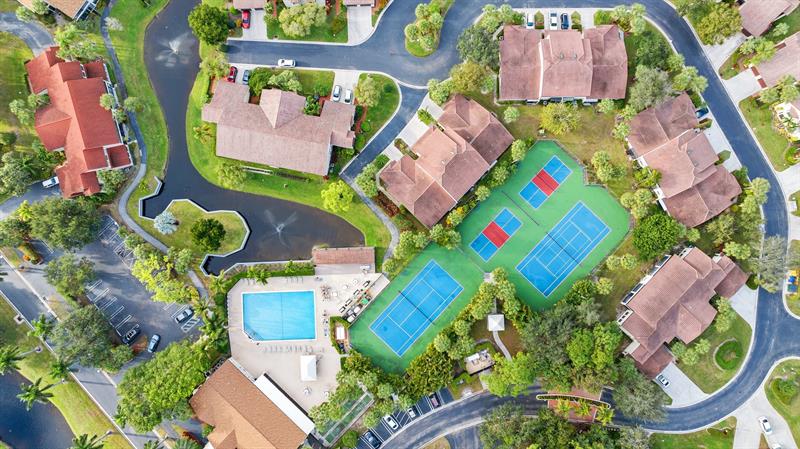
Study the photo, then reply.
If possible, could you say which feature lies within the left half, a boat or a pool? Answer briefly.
pool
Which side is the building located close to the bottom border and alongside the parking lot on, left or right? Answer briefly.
left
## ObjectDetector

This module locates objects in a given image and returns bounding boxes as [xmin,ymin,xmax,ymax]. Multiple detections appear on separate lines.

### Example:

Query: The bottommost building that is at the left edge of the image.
[16,44,139,197]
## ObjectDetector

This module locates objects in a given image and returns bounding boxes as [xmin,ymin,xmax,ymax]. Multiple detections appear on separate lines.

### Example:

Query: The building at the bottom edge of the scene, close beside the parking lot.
[188,355,325,449]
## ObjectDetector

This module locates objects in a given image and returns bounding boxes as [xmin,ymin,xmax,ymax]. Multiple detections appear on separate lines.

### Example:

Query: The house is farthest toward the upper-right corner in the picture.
[734,0,795,37]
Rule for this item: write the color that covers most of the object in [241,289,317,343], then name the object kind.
blue swimming pool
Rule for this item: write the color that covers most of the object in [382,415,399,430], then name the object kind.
white car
